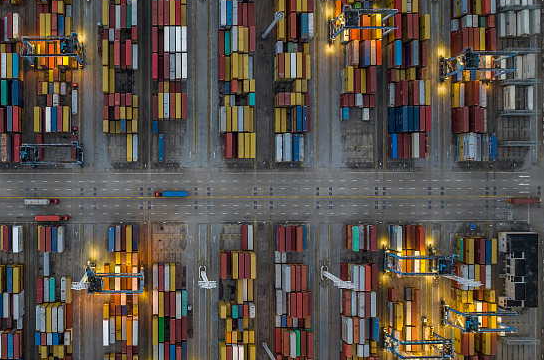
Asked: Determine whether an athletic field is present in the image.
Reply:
No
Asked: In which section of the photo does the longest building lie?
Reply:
bottom right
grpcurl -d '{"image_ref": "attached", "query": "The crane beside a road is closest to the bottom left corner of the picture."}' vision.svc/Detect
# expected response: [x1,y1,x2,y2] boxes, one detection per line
[84,258,146,296]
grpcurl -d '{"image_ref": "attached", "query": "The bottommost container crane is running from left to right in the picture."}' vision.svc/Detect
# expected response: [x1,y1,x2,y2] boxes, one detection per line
[384,323,459,360]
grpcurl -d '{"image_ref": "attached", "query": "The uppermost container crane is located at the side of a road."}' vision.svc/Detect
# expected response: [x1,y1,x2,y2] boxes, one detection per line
[330,2,399,48]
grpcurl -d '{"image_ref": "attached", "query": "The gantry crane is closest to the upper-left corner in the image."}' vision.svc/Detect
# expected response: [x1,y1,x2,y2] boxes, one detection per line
[18,30,84,71]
